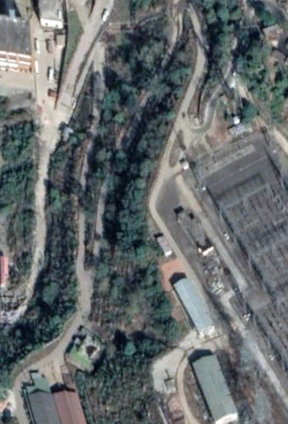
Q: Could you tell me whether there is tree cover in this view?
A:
Yes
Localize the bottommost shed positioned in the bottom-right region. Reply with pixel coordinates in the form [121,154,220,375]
[188,356,238,424]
